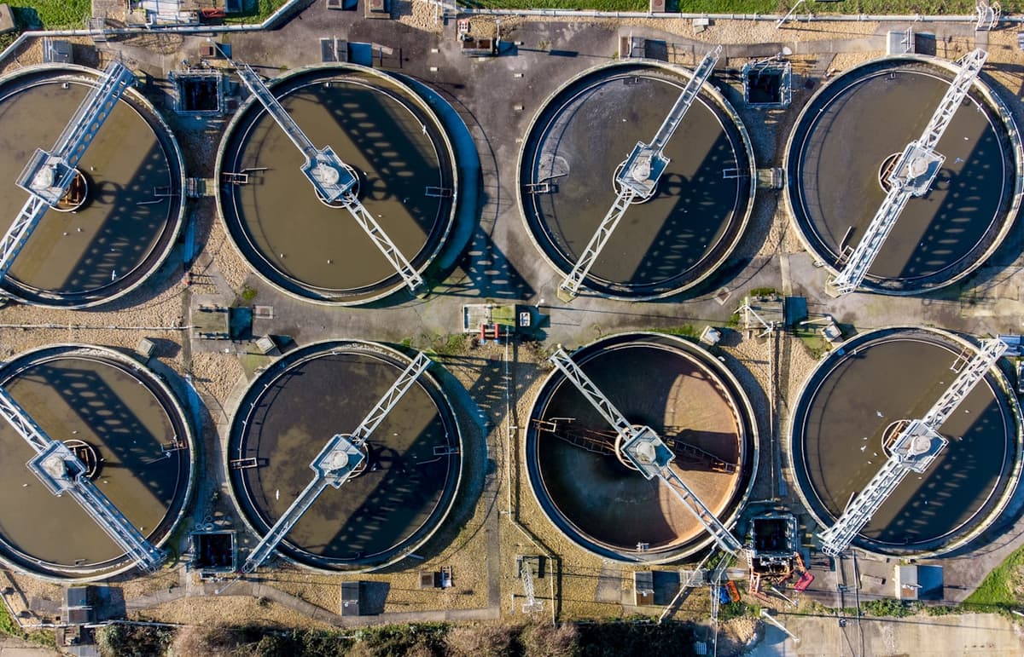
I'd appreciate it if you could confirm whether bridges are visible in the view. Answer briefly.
Yes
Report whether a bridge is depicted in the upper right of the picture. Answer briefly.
Yes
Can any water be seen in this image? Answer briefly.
Yes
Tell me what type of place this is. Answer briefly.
industrial area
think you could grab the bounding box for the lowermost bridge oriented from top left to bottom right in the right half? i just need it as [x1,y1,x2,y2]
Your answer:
[550,347,747,561]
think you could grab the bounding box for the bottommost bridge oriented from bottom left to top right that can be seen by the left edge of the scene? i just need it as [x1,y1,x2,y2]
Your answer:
[0,52,153,301]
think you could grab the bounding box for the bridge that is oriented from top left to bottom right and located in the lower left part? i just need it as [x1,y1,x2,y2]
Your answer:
[0,382,181,582]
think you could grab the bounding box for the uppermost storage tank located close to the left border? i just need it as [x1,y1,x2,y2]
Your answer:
[0,62,189,308]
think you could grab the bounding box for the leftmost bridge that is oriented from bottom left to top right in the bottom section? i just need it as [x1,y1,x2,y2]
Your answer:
[240,351,434,576]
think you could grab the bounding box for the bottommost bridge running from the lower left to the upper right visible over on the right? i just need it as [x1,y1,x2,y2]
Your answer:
[810,336,1013,563]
